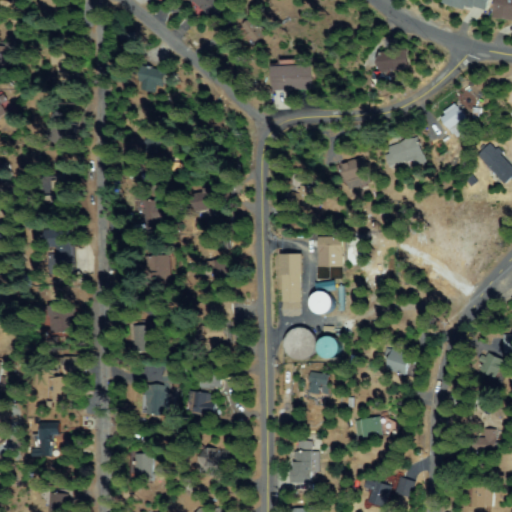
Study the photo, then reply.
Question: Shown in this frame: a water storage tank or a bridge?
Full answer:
This aerial view contains a water storage tank.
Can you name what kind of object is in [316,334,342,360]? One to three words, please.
water tank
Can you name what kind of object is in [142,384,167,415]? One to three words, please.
house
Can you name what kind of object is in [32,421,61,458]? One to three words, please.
house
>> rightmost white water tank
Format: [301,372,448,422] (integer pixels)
[308,290,336,315]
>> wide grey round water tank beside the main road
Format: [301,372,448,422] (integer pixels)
[284,326,318,360]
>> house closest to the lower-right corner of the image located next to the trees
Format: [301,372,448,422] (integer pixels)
[473,428,500,449]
